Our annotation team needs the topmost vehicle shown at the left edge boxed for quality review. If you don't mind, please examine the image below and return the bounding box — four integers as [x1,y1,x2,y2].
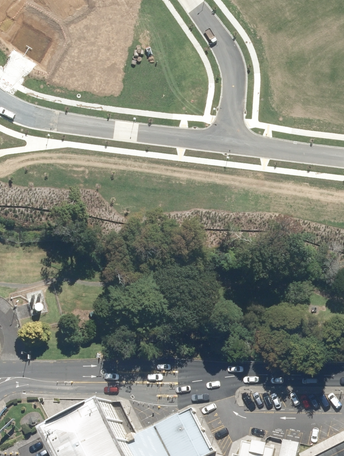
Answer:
[0,107,15,119]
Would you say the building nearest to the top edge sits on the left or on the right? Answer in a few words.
left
